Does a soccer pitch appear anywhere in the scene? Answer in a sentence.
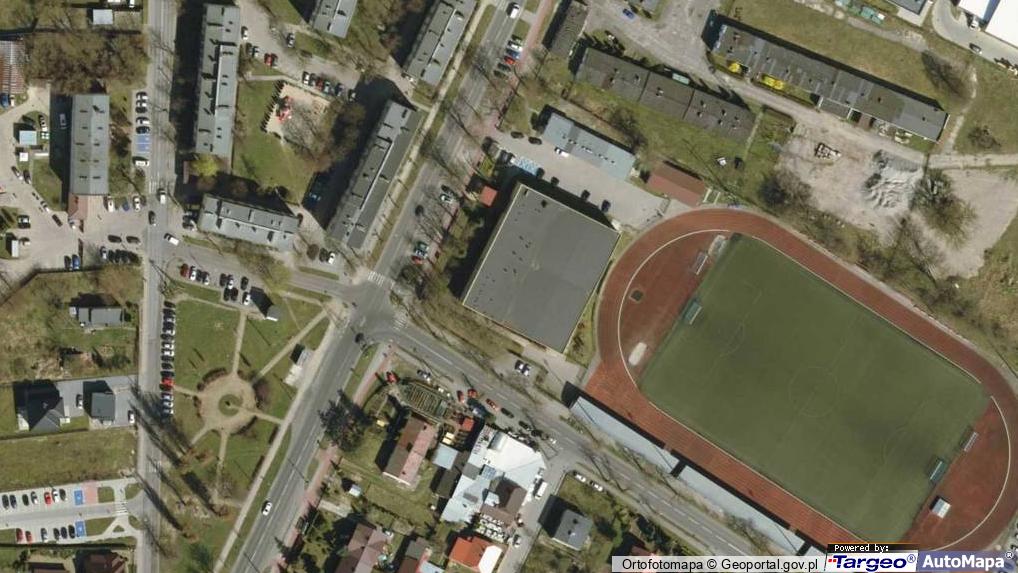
Yes, I can see a soccer pitch in this picture.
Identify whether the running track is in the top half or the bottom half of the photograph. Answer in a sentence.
It is in the bottom half that the running track appears.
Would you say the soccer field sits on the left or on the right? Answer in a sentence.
The soccer field is on the right side of the image.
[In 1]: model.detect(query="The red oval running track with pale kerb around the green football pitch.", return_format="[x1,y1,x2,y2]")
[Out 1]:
[582,205,1018,573]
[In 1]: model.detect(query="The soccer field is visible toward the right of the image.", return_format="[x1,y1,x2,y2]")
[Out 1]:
[640,236,989,546]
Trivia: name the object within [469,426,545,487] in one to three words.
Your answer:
building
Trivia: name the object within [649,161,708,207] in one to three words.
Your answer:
shed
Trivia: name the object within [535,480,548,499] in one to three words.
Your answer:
vehicle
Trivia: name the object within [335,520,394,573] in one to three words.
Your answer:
house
